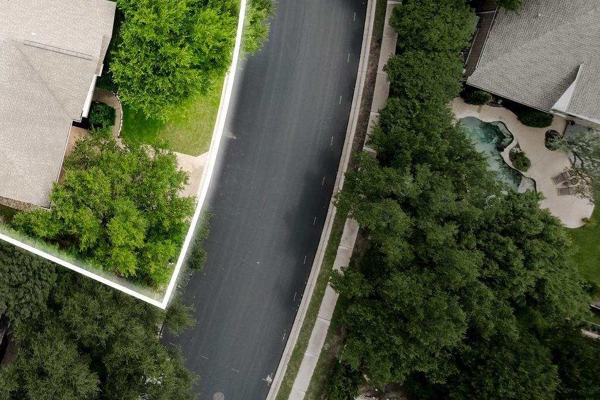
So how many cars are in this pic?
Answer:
zero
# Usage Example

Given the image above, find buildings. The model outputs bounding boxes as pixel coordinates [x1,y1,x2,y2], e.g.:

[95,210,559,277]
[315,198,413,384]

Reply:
[0,0,118,210]
[453,0,600,122]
